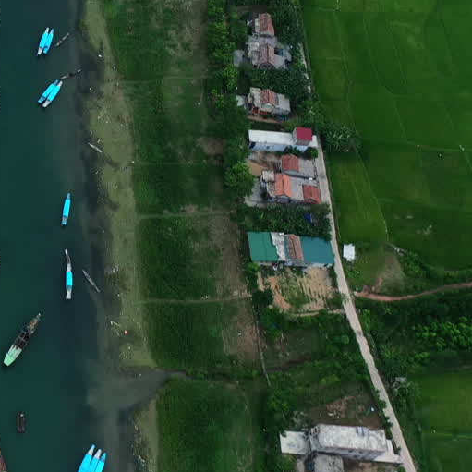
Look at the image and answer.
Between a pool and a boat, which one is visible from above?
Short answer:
boat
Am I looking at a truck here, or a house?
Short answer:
house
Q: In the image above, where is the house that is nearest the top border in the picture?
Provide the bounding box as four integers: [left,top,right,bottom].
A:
[255,10,274,36]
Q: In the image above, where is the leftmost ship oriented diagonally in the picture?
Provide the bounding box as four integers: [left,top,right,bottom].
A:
[3,313,40,367]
